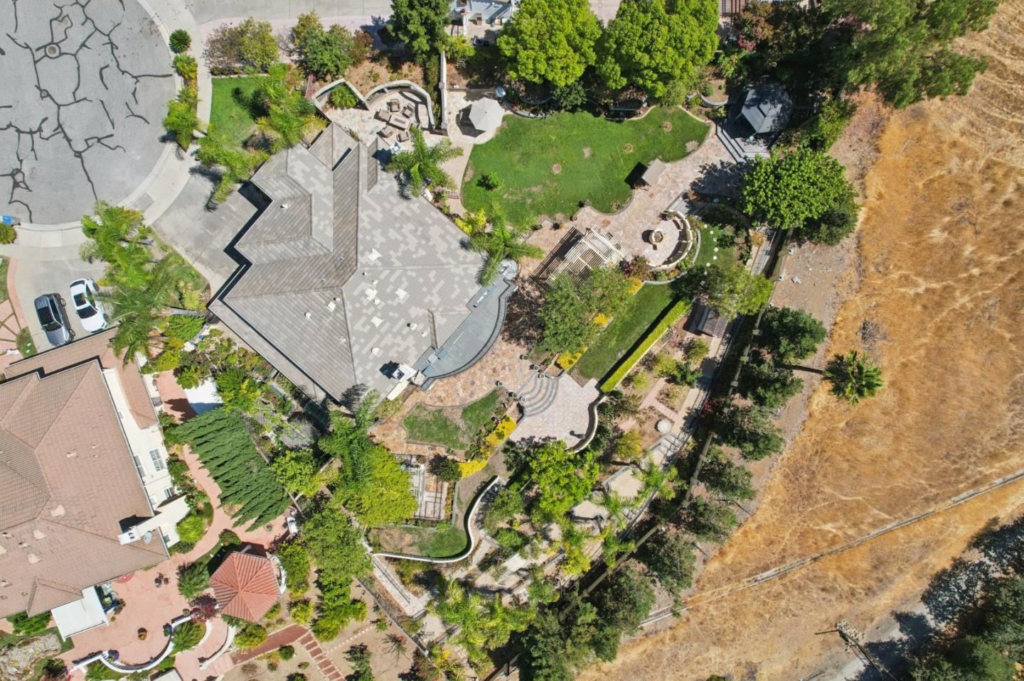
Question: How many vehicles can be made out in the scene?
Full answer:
Altogether the scene contains 2 vehicles.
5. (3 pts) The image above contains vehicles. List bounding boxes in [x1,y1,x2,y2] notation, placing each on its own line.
[32,292,73,348]
[69,278,107,335]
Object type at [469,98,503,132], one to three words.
umbrella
